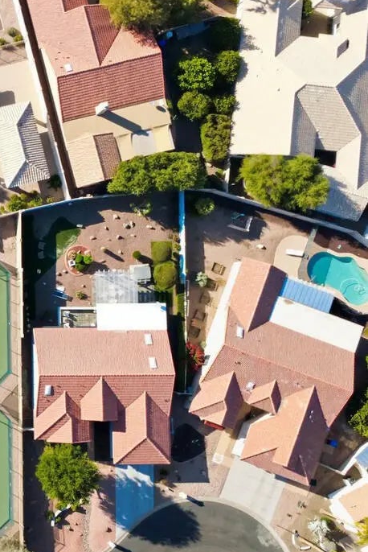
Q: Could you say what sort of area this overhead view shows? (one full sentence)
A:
The area seen from above is a residential area.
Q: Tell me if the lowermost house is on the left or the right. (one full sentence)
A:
You can find the lowermost house on the right side of the picture.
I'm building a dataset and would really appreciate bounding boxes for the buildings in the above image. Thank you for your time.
[182,258,363,486]
[223,0,368,226]
[0,100,50,189]
[125,264,149,280]
[29,302,175,465]
[24,0,174,188]
[317,434,368,523]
